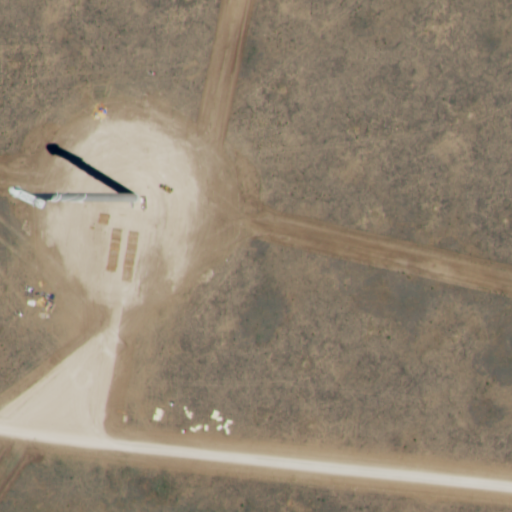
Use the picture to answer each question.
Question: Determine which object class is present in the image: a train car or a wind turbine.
wind turbine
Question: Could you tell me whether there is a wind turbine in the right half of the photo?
No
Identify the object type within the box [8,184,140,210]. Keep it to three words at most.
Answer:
wind turbine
